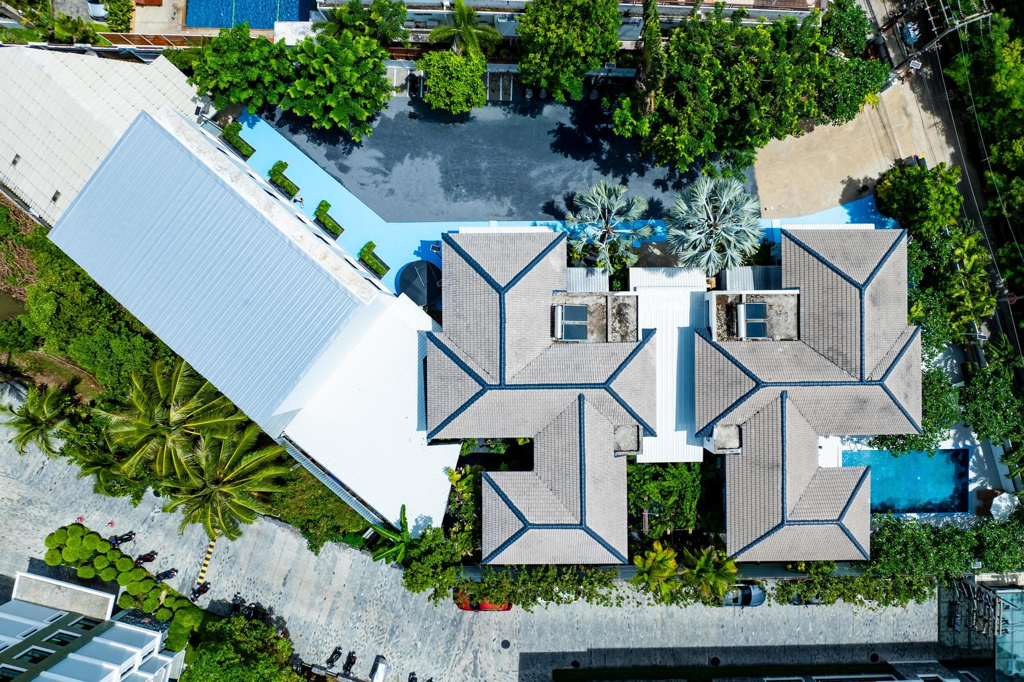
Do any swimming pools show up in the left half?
Yes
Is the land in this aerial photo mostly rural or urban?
urban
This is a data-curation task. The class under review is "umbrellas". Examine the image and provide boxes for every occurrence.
[398,261,441,305]
[973,493,1012,520]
